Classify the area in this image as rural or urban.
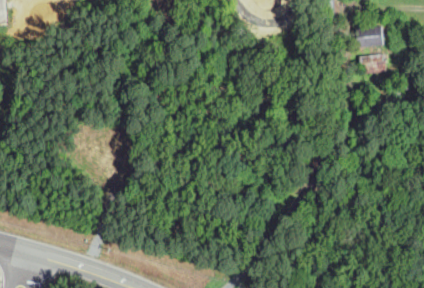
rural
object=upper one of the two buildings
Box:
[358,26,384,48]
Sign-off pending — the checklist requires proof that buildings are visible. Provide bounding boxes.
[360,54,387,73]
[358,26,384,48]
